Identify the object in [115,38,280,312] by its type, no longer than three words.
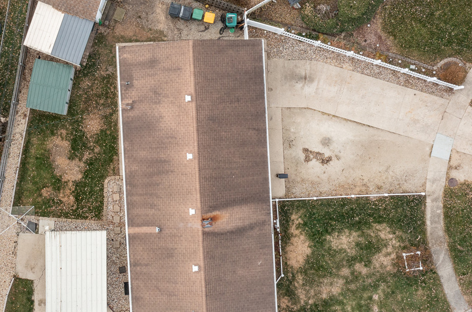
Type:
house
